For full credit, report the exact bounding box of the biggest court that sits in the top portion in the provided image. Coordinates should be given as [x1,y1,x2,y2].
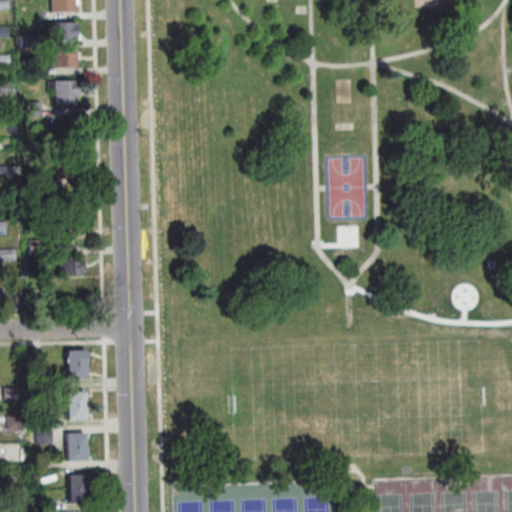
[326,156,368,220]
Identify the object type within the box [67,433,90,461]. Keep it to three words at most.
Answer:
house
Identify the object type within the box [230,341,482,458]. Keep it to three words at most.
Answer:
sports field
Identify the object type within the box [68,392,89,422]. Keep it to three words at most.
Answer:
house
